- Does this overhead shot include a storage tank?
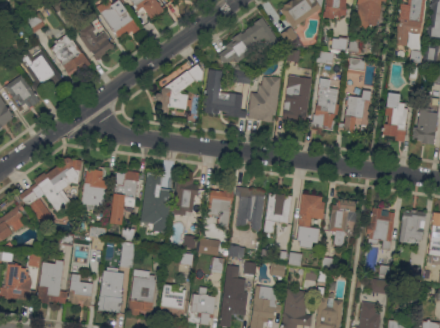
No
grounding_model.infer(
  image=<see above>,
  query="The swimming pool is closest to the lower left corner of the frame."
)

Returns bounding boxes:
[12,229,36,245]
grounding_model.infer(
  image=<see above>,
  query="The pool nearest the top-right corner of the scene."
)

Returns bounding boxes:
[390,64,406,89]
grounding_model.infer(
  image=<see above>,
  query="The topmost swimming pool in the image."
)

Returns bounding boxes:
[304,19,318,39]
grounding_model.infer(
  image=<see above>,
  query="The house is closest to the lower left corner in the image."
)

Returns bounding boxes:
[0,264,31,300]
